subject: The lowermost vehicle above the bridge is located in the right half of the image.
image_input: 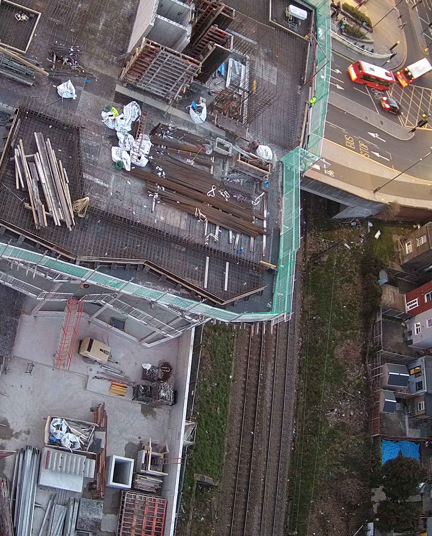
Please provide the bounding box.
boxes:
[384,101,406,117]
